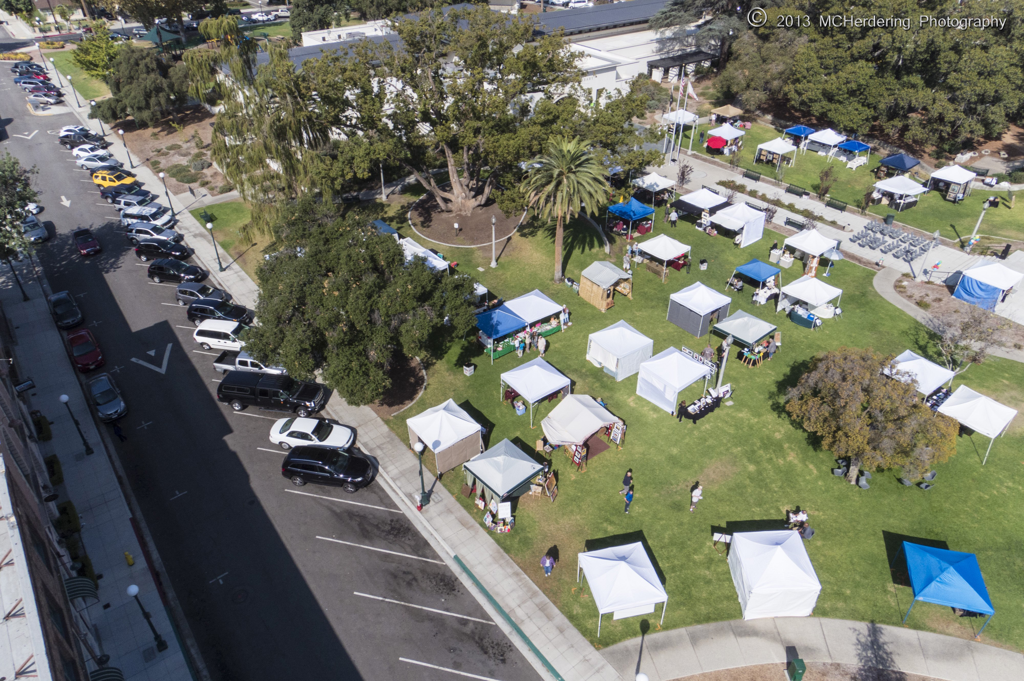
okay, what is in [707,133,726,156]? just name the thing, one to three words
umbrella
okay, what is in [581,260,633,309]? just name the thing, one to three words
shed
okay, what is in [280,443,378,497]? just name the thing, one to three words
car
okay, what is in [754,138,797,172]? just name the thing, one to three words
tent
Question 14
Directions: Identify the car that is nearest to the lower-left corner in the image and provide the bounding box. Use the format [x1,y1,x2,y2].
[86,365,134,420]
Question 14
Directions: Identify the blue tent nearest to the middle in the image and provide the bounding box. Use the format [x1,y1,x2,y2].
[473,298,524,343]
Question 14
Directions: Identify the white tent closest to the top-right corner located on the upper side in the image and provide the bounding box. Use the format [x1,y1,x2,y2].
[926,165,976,205]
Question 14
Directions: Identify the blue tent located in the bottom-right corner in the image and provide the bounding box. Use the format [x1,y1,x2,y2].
[884,542,994,648]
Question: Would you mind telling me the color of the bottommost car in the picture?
black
